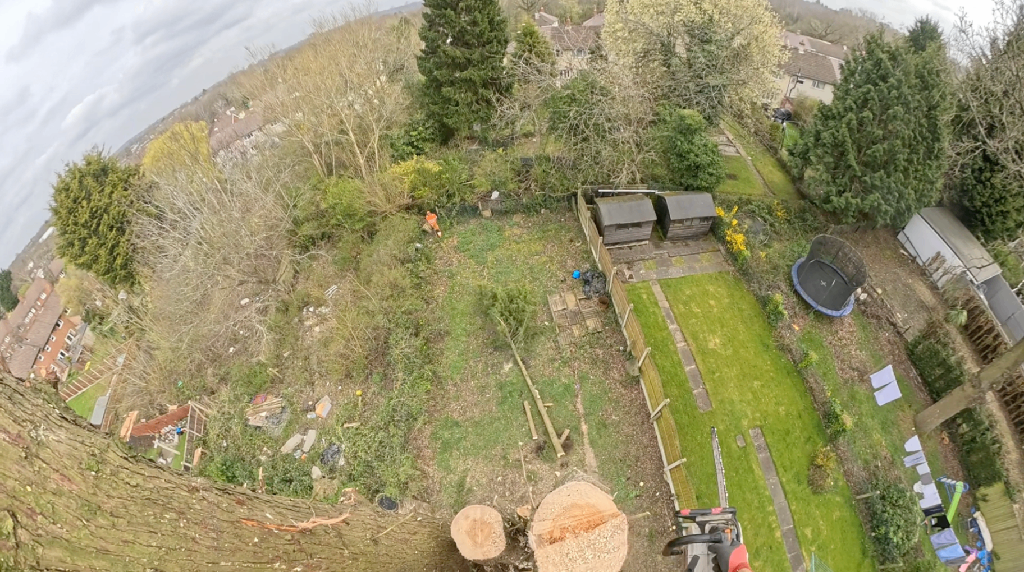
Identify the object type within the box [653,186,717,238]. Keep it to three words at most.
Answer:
shed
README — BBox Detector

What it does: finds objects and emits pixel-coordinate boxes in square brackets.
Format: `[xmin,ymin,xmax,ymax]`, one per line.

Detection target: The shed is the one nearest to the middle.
[592,192,659,244]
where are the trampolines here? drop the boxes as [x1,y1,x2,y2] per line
[785,232,874,320]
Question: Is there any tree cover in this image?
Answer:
Yes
